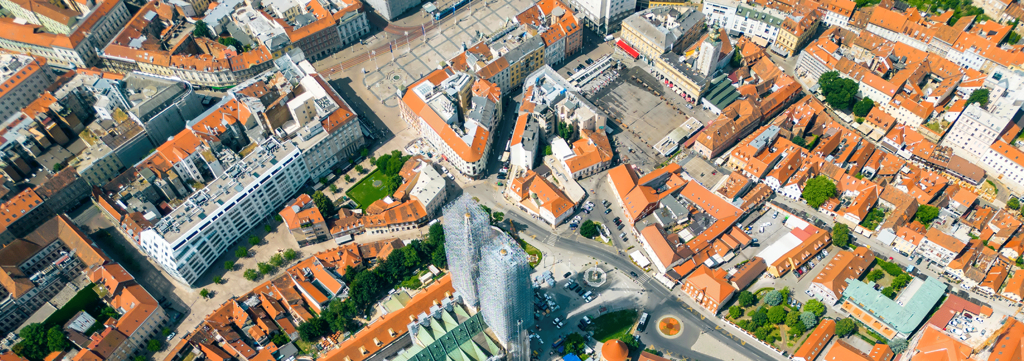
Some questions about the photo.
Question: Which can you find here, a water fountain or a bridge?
water fountain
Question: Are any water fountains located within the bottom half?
Yes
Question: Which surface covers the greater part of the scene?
buildings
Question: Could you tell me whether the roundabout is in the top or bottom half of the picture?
bottom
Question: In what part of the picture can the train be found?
top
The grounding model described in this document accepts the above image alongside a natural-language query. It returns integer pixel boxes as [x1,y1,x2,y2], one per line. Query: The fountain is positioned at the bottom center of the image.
[583,261,607,288]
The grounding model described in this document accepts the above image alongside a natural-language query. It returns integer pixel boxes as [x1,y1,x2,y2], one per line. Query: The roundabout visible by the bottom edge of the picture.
[637,286,750,361]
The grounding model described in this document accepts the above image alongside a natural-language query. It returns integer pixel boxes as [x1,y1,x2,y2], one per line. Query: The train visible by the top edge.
[434,0,473,21]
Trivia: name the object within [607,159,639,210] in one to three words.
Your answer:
house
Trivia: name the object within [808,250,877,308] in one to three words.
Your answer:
house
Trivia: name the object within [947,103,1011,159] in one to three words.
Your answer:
building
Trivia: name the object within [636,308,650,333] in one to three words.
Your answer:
vehicle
